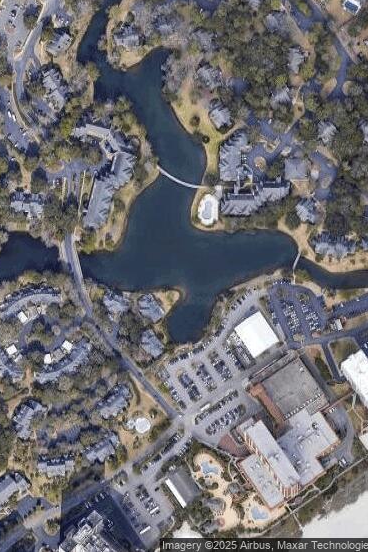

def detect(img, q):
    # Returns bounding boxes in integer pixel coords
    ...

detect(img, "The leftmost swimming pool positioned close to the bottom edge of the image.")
[193,452,286,531]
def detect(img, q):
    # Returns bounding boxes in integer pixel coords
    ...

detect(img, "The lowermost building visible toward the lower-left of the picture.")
[55,511,126,552]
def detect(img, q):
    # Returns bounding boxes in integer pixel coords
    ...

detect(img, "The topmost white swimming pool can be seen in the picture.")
[198,192,220,225]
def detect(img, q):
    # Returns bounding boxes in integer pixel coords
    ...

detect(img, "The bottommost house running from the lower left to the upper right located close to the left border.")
[0,467,33,510]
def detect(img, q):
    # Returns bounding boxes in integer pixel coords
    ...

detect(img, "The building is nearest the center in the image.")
[137,292,167,324]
